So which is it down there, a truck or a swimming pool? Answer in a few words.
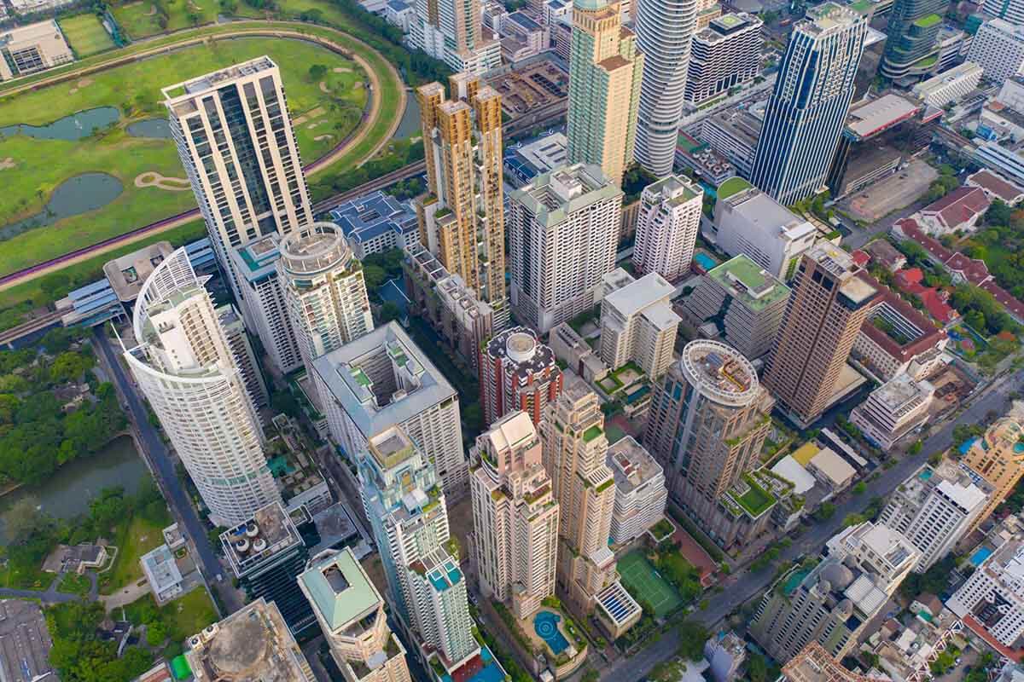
swimming pool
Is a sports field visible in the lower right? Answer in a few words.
No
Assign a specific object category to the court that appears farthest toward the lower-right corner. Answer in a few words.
tennis court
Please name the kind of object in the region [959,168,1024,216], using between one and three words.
house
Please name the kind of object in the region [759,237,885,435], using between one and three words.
building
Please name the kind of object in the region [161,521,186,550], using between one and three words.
house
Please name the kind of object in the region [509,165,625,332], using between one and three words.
building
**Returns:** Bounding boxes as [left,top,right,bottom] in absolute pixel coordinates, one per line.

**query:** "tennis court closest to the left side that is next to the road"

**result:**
[618,549,681,614]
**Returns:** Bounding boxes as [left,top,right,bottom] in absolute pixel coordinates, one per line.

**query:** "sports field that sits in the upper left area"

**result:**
[59,15,114,57]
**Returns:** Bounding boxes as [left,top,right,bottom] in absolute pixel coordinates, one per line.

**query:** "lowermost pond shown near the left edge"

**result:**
[0,172,124,241]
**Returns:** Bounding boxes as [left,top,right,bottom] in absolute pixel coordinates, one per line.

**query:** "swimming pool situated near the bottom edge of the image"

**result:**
[534,611,569,655]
